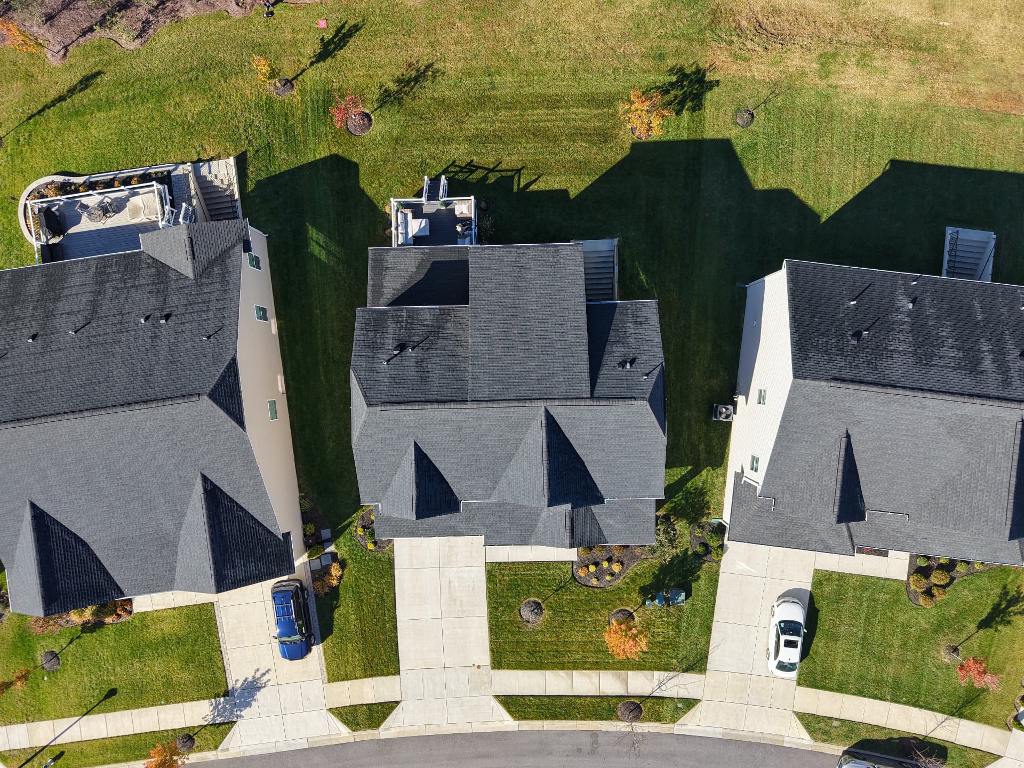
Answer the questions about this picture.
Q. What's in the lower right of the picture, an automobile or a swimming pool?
automobile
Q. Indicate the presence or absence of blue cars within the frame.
Yes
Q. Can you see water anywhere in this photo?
No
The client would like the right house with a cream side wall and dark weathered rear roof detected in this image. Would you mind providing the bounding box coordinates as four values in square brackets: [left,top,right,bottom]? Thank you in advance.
[713,257,1024,569]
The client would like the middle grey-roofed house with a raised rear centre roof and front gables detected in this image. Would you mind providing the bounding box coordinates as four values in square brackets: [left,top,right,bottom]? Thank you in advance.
[350,240,669,548]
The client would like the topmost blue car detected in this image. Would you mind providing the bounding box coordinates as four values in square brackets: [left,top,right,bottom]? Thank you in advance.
[271,578,316,660]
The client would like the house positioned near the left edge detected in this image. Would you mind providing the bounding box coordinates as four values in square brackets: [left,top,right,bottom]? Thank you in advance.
[0,218,307,622]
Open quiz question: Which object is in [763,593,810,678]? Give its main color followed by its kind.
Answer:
white car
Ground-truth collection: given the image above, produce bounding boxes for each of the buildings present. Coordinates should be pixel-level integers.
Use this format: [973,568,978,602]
[0,218,307,622]
[713,257,1024,569]
[350,240,669,548]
